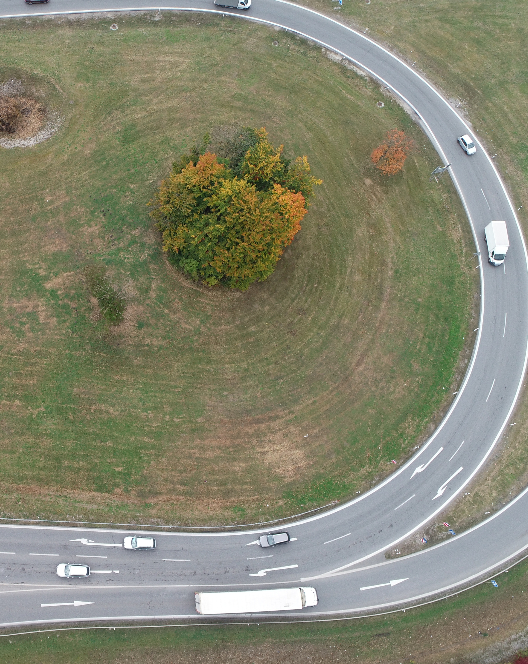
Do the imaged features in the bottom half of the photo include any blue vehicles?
No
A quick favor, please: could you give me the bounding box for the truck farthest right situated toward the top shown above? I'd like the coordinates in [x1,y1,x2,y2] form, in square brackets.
[484,221,509,264]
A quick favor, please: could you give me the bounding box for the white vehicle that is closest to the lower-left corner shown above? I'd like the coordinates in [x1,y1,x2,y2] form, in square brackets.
[57,562,90,579]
